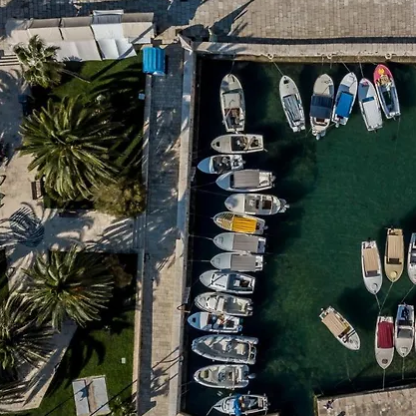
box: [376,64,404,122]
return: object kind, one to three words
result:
boat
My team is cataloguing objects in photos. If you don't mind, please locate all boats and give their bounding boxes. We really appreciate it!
[210,252,268,273]
[212,212,271,236]
[216,170,278,194]
[199,269,257,294]
[408,232,416,284]
[214,391,271,416]
[320,306,359,350]
[279,75,309,136]
[332,72,359,128]
[358,77,384,135]
[193,363,260,390]
[195,292,259,317]
[395,301,415,358]
[220,74,247,135]
[187,310,245,334]
[192,333,261,365]
[197,154,249,175]
[211,133,265,154]
[384,225,404,282]
[224,193,291,216]
[361,237,382,295]
[375,312,395,370]
[308,73,335,143]
[213,232,267,253]
[376,64,404,122]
